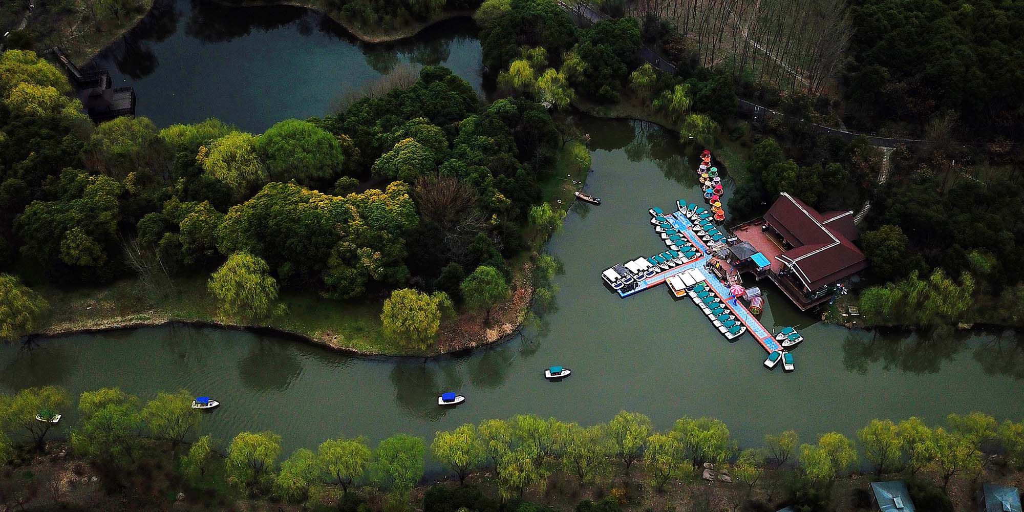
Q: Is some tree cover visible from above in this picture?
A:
Yes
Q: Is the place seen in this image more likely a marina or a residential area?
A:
marina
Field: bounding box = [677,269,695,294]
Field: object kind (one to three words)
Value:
boat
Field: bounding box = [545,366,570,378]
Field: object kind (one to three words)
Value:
boat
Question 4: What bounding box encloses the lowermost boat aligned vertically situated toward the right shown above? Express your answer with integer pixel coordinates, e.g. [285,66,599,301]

[782,351,794,374]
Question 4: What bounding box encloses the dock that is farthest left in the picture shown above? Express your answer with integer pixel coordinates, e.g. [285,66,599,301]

[616,211,783,354]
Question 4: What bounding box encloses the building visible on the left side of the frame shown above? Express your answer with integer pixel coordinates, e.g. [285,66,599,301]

[50,43,135,115]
